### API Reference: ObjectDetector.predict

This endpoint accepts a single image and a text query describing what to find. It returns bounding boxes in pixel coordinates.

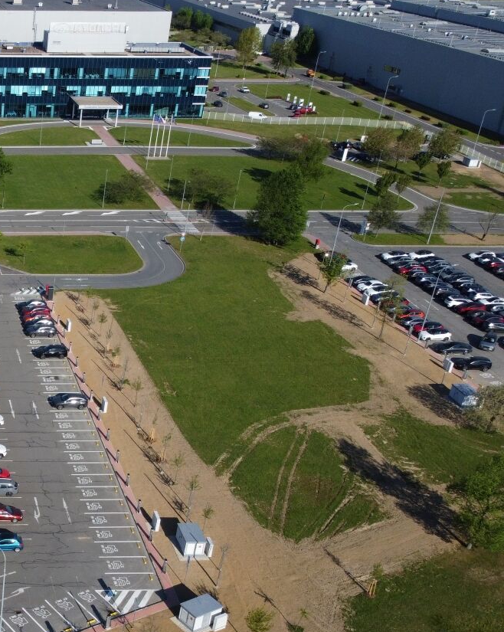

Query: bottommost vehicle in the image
[0,530,32,552]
